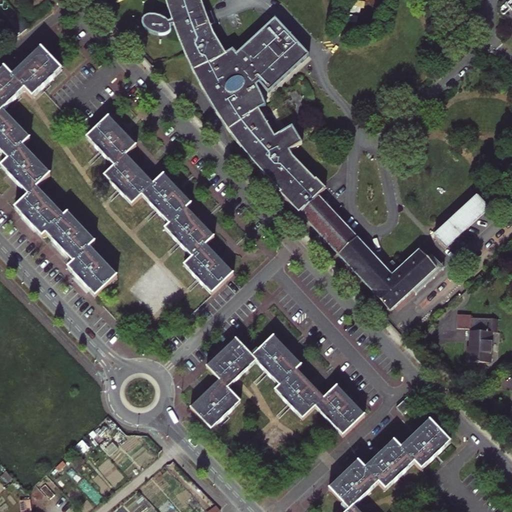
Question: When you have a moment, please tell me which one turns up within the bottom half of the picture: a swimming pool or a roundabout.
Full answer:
The feature located within the bottom half of the picture is a roundabout.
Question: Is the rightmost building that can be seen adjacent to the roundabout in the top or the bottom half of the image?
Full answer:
The rightmost building that can be seen adjacent to the roundabout sits in the bottom half of the picture.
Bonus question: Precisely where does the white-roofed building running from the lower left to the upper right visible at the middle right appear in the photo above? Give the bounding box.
[434,194,486,248]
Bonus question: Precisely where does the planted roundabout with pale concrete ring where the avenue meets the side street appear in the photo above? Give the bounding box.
[106,358,174,428]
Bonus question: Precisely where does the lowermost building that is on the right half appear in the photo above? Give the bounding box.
[328,417,450,512]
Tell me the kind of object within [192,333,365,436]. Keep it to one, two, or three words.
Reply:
building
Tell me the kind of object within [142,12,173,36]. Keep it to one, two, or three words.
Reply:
building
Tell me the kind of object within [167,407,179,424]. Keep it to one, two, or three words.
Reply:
vehicle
